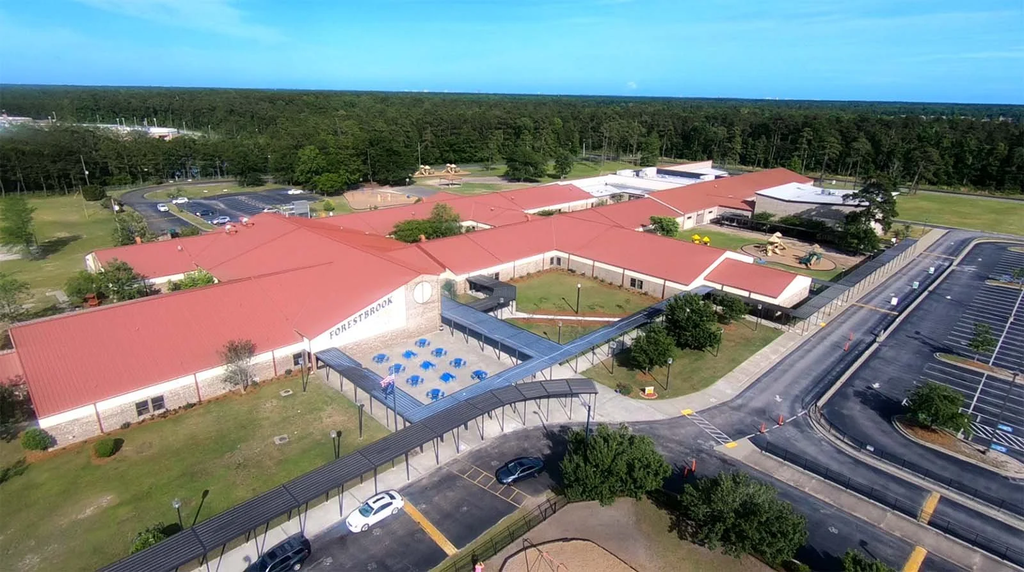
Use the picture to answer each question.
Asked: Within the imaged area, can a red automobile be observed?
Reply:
No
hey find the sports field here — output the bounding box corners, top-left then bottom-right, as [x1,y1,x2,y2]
[856,185,1024,235]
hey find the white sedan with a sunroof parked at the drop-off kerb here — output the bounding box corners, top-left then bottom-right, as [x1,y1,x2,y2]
[346,485,407,529]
